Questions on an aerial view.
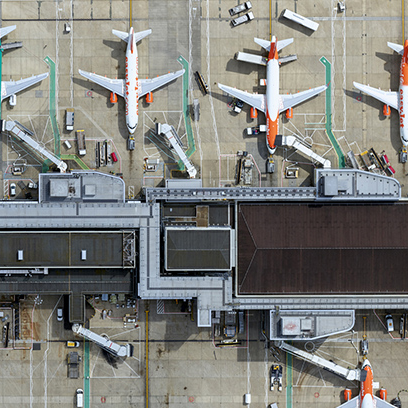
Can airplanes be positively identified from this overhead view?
Yes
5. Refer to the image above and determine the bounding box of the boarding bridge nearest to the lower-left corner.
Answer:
[72,321,134,358]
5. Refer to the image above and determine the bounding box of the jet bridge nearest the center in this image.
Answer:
[155,123,198,180]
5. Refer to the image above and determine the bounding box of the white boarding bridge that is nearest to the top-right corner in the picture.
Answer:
[276,134,332,169]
